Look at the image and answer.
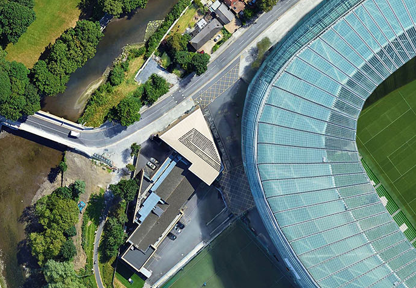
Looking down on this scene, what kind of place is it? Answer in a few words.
sports ground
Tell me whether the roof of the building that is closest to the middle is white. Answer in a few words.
Yes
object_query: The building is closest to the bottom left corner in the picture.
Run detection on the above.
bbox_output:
[120,157,194,278]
